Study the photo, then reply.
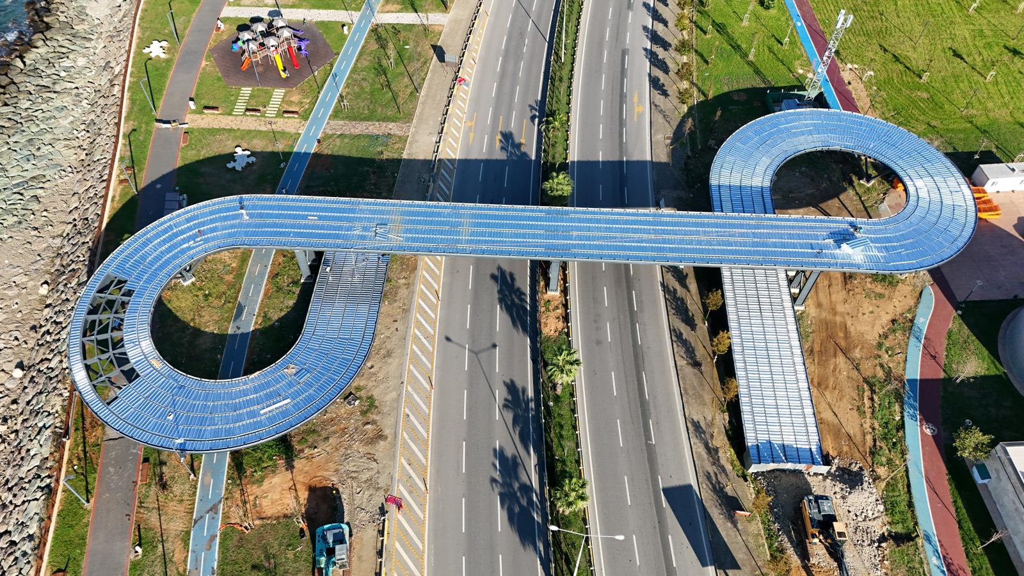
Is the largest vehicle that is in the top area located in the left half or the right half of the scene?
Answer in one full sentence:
You can find the largest vehicle that is in the top area on the left side of the picture.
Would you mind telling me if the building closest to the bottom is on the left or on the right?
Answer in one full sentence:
The building closest to the bottom is on the right side of the image.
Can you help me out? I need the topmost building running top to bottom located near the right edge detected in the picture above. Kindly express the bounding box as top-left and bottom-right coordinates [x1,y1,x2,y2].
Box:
[986,307,1024,394]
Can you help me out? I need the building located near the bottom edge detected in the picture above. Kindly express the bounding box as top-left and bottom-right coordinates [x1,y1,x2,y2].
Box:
[975,441,1024,551]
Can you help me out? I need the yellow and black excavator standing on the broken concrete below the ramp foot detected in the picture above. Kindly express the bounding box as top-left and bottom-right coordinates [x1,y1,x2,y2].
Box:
[793,495,850,576]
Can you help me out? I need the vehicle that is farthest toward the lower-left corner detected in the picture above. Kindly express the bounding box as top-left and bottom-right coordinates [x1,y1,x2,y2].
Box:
[313,523,355,576]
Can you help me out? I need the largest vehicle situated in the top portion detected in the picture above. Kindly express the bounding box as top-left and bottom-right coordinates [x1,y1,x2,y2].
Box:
[157,191,195,211]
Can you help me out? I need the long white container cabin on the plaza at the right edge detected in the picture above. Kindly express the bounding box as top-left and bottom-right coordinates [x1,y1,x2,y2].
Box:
[973,162,1024,192]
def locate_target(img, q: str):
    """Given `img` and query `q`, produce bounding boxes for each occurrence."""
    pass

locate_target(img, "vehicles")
[157,191,195,211]
[313,523,355,576]
[793,495,850,576]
